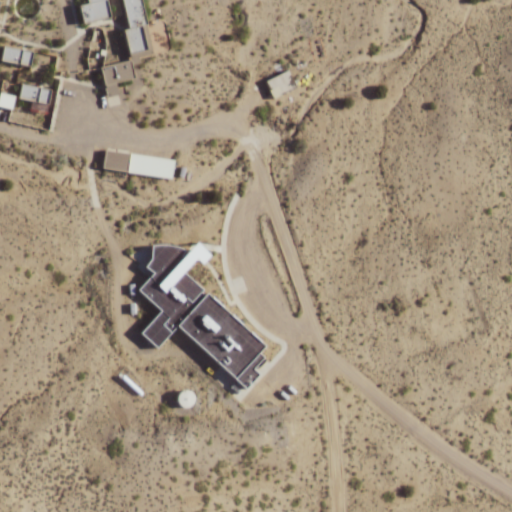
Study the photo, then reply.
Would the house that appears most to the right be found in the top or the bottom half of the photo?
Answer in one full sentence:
You can find the house that appears most to the right in the top half.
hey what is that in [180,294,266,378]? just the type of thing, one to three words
building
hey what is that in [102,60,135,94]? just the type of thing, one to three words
building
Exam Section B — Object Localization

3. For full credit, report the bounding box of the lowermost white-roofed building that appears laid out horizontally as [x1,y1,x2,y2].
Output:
[102,150,176,180]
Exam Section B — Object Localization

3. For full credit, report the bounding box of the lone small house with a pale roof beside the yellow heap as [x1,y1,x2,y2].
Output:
[266,70,296,97]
